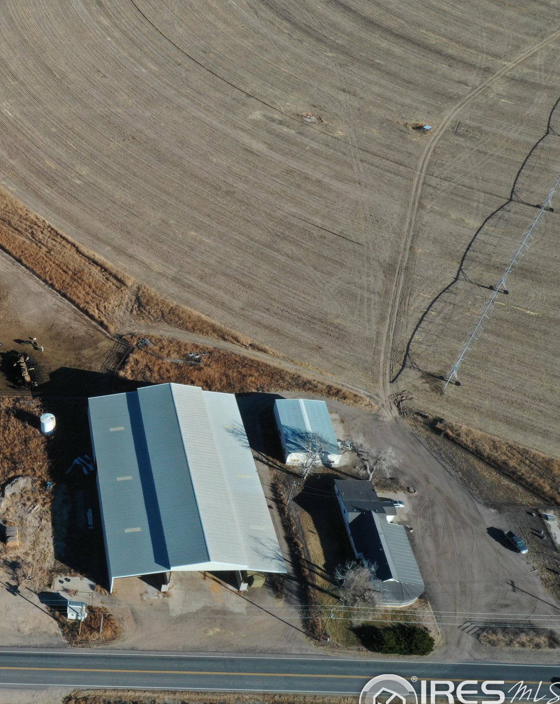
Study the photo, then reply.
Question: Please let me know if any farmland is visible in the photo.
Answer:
Yes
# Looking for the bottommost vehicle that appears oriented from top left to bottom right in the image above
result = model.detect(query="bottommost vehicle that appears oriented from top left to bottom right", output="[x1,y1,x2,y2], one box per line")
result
[505,531,532,554]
